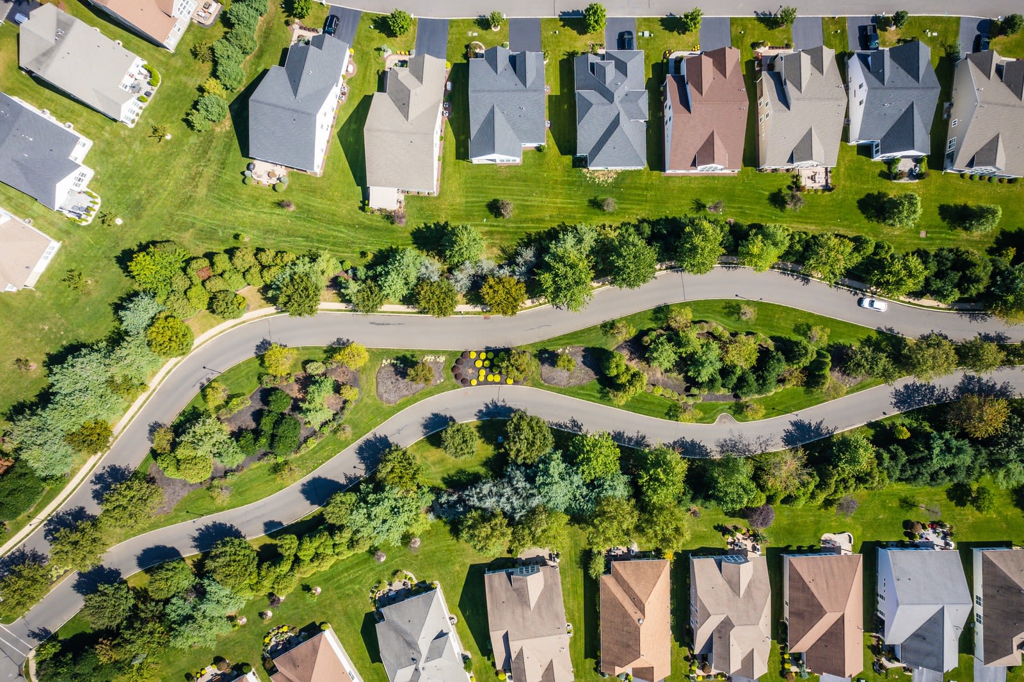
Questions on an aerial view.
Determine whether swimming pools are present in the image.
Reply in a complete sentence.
No, no swimming pool is visible in the view.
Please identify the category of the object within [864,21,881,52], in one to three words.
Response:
vehicle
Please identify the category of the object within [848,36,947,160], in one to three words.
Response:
house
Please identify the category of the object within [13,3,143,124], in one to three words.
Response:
house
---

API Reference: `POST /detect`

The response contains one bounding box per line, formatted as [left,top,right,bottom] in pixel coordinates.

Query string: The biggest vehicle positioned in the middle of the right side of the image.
[857,297,887,312]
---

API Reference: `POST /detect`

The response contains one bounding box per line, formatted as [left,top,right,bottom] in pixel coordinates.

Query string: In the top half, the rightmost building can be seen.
[943,45,1024,179]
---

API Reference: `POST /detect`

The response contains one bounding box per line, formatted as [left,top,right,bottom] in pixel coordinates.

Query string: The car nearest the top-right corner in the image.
[976,31,992,48]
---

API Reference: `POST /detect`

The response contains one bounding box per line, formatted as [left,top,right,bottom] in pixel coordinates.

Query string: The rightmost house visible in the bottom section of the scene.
[971,548,1024,667]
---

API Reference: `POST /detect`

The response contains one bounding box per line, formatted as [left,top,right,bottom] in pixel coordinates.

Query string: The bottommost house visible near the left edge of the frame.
[0,208,62,293]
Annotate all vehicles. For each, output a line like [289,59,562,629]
[857,297,887,312]
[976,31,992,48]
[620,28,633,51]
[864,21,881,52]
[322,10,339,38]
